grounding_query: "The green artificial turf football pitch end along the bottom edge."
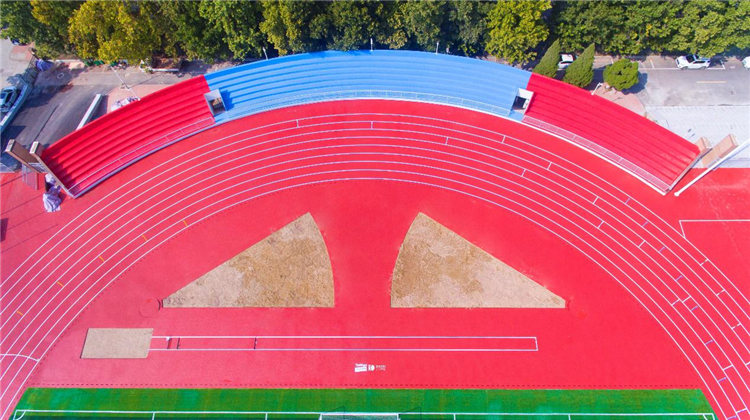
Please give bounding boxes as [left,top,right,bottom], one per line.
[9,387,719,420]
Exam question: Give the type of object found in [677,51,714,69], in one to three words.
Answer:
car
